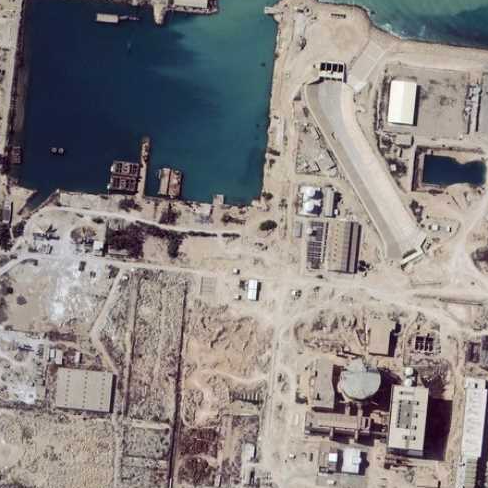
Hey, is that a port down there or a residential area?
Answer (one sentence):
The area seen from above is a port.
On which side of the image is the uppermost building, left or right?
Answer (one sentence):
The uppermost building sits on the right side.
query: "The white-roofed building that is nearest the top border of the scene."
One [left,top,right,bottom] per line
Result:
[388,81,418,126]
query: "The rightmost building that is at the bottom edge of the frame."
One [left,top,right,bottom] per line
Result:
[455,378,487,488]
